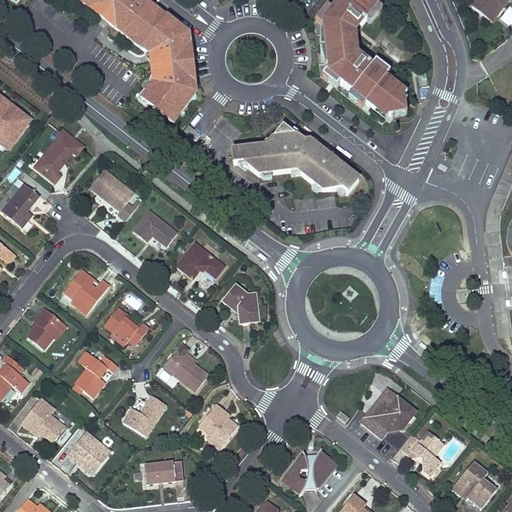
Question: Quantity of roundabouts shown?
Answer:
2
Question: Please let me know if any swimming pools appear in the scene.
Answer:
Yes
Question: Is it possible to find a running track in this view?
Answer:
No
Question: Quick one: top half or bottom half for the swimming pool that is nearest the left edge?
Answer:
top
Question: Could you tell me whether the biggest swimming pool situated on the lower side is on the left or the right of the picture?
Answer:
right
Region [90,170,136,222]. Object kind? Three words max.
house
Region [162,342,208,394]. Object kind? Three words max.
house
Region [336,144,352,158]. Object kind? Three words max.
vehicle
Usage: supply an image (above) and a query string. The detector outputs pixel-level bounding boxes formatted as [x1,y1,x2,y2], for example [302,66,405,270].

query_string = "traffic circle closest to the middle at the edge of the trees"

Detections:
[286,247,399,360]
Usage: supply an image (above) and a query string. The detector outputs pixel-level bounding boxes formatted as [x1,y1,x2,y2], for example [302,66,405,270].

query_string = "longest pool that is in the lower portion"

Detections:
[438,437,465,468]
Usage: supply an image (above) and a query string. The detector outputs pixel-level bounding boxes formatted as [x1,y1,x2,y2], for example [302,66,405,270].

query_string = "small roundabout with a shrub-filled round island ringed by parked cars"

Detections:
[210,18,292,100]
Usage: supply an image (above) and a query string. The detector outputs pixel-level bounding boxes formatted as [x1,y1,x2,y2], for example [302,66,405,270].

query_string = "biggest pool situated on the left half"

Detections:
[4,165,24,185]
